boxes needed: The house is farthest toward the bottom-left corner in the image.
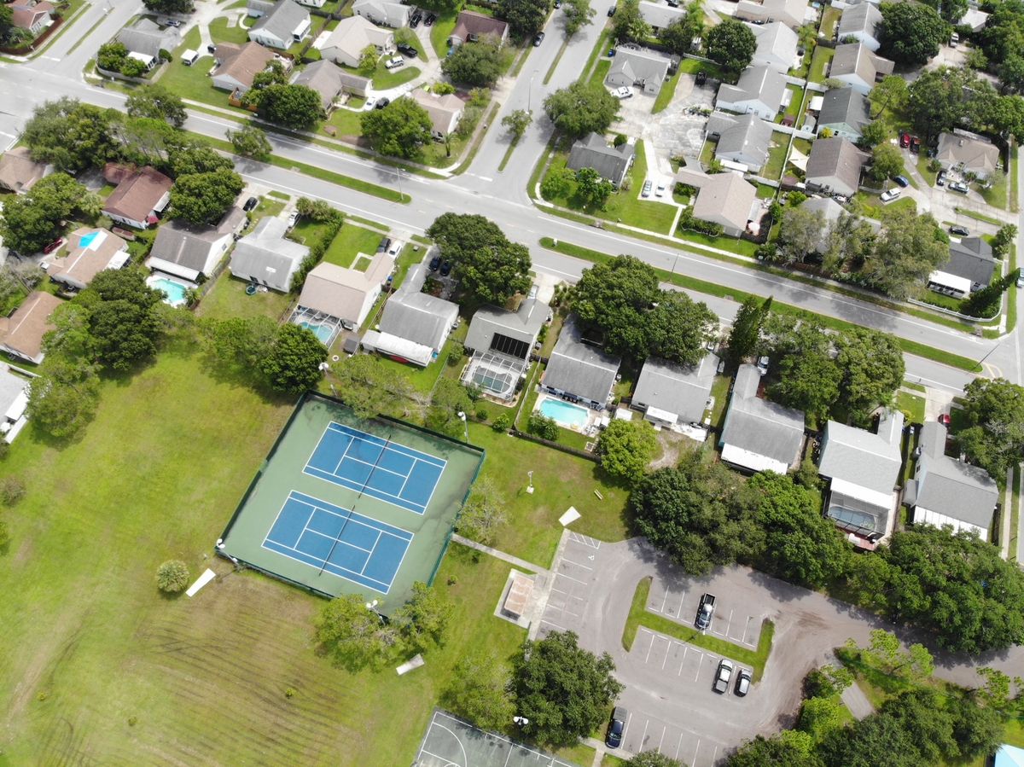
[0,372,43,440]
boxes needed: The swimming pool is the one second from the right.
[531,391,615,437]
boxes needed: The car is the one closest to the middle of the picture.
[526,283,540,299]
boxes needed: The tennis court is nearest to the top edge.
[269,397,479,534]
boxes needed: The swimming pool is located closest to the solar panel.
[462,352,526,402]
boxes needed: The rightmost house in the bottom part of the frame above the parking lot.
[912,419,998,533]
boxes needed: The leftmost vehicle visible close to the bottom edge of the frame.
[606,706,626,750]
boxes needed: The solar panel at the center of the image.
[488,331,530,361]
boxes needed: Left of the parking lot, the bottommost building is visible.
[504,575,534,616]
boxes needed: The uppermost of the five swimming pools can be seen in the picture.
[151,270,198,307]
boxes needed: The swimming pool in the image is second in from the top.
[289,305,340,347]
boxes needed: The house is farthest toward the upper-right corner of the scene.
[958,7,978,36]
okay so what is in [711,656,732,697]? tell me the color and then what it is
white truck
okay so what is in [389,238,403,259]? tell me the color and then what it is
white car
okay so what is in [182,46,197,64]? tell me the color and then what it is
white vehicle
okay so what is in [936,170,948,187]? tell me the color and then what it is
gray vehicle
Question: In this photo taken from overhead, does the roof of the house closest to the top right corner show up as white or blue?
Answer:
white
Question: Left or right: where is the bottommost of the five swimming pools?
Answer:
right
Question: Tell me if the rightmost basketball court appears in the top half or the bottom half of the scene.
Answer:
bottom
